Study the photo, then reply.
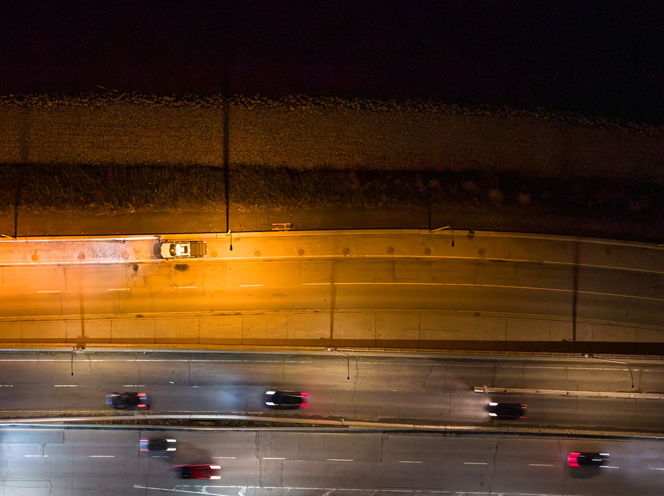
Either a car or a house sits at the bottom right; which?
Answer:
car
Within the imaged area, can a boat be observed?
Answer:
No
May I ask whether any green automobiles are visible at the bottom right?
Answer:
No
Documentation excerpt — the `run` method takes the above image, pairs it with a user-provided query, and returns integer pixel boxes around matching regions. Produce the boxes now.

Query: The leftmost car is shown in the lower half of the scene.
[108,392,145,409]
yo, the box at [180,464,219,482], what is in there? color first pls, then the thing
red car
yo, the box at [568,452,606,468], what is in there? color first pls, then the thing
black car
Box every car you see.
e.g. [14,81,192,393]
[267,391,307,409]
[108,392,145,409]
[489,403,526,419]
[141,437,175,454]
[180,464,219,482]
[568,452,606,468]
